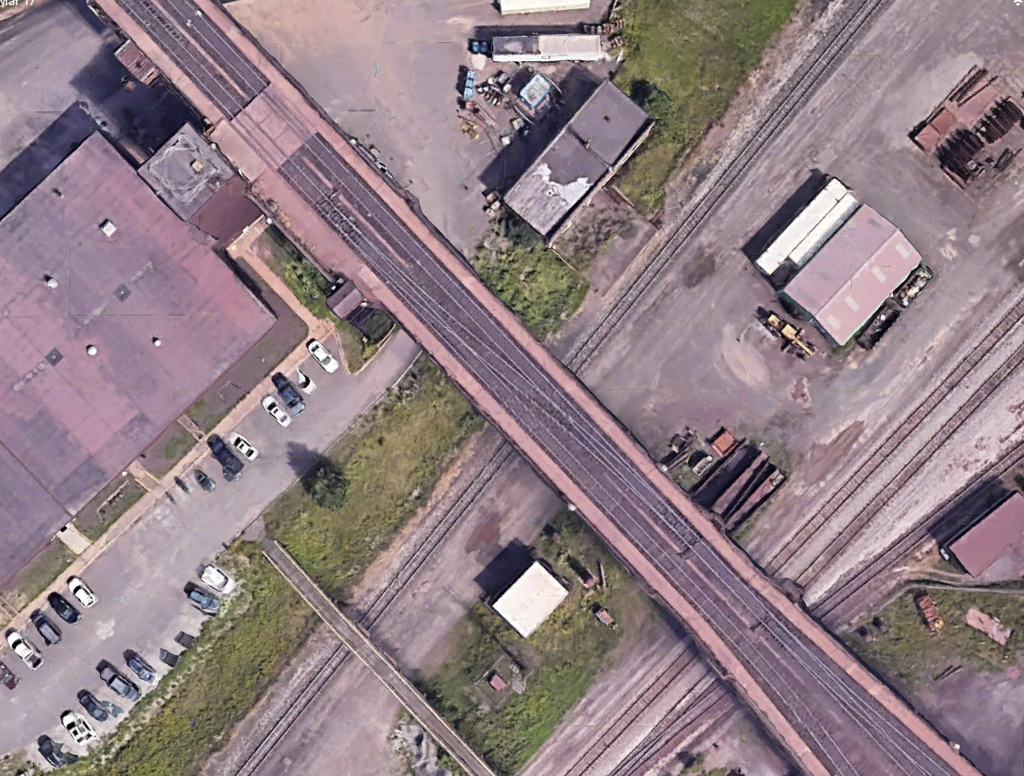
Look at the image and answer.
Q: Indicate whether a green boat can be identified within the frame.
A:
No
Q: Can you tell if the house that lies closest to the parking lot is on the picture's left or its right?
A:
left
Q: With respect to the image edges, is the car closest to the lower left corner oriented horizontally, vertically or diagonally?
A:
diagonally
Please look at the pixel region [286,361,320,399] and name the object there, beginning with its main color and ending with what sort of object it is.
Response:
white car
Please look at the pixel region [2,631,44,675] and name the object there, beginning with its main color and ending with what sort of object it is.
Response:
white vehicle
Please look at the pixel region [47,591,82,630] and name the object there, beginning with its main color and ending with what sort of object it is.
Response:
black car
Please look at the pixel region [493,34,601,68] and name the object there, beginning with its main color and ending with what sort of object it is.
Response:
white trailer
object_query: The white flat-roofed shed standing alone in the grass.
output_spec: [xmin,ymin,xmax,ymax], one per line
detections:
[493,559,568,638]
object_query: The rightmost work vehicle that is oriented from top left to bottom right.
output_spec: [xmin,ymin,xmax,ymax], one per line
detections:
[764,305,820,359]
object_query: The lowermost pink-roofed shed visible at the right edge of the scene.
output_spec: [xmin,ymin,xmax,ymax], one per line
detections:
[941,487,1024,577]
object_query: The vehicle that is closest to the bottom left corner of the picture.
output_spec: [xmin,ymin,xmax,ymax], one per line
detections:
[34,734,70,772]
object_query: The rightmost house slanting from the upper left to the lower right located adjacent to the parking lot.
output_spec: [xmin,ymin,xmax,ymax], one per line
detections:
[327,280,384,352]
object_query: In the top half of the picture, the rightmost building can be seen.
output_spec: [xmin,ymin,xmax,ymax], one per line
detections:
[778,204,924,347]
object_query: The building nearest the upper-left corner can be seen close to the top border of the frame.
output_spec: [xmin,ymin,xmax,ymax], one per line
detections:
[112,37,182,103]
